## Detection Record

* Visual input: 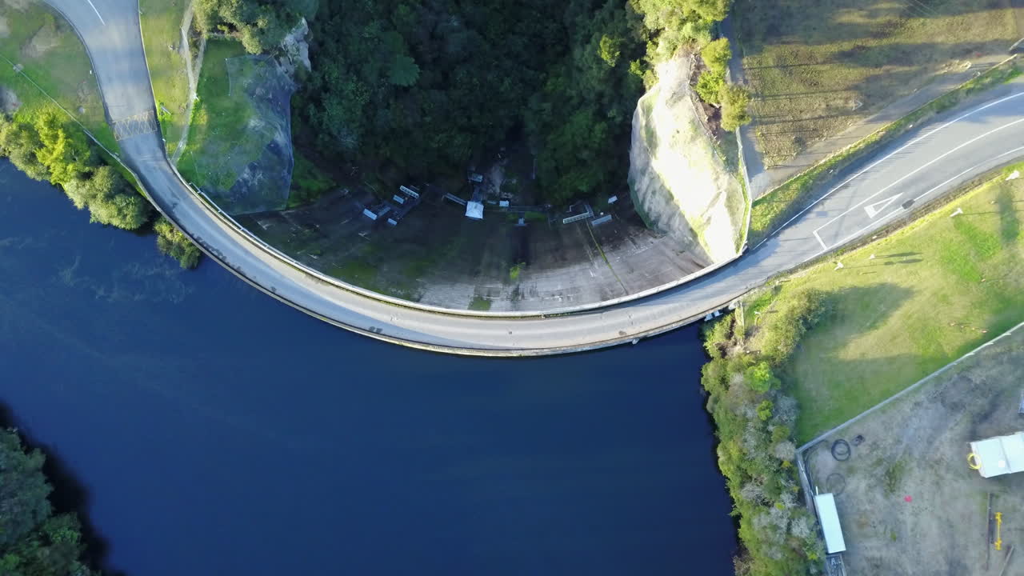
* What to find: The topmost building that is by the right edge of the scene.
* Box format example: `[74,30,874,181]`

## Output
[965,430,1024,477]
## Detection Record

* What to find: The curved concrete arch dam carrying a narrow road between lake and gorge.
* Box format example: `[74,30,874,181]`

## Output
[137,163,756,357]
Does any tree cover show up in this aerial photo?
Yes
